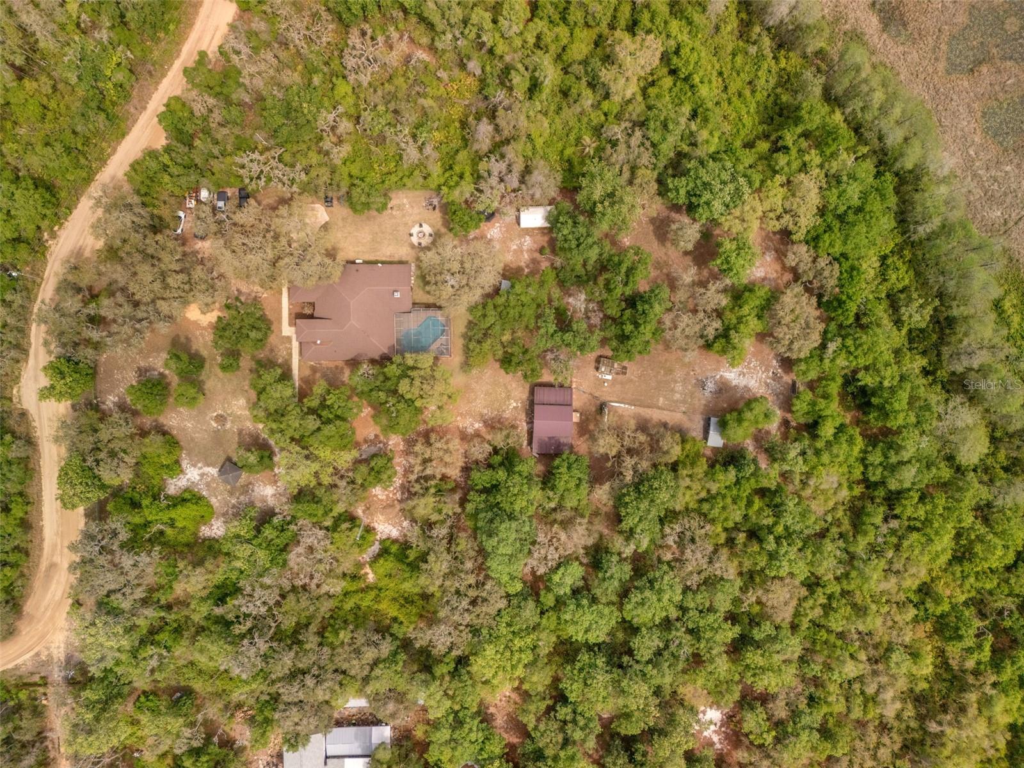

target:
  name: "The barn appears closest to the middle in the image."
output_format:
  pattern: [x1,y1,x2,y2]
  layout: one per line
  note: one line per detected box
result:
[533,387,573,457]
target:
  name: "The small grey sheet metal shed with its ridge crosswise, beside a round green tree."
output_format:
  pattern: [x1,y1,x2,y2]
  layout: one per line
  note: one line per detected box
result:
[706,417,722,447]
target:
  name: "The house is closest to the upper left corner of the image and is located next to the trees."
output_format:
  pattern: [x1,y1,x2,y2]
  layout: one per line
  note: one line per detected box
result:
[289,263,411,360]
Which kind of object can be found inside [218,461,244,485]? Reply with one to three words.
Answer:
gazebo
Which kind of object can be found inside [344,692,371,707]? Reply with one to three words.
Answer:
shed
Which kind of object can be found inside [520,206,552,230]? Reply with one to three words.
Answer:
shed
